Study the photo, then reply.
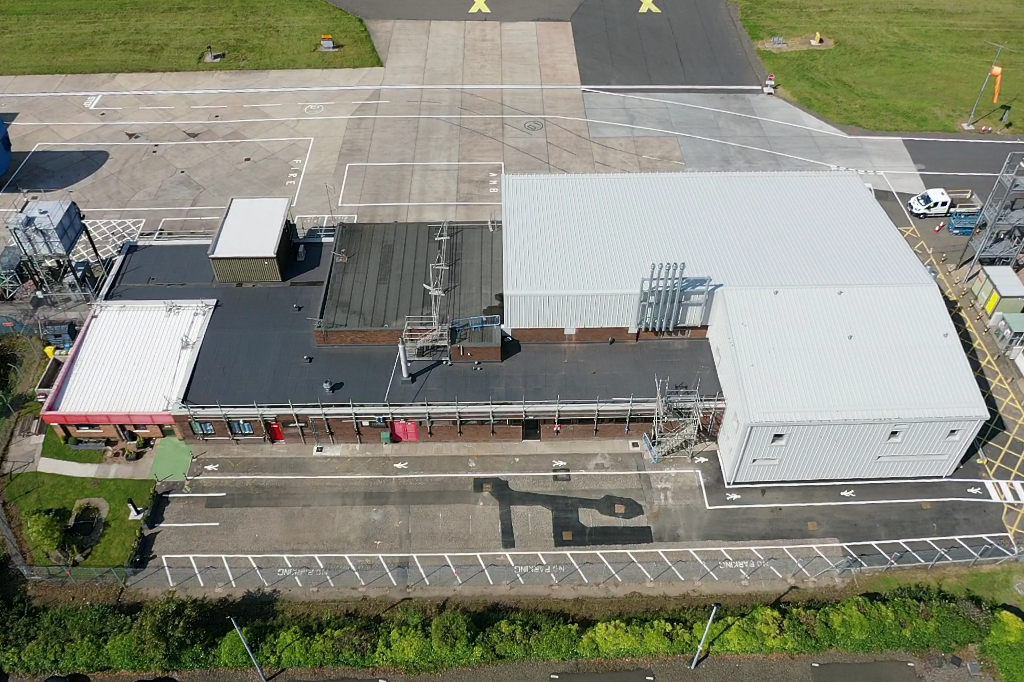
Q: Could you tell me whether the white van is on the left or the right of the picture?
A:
right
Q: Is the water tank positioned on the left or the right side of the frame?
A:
left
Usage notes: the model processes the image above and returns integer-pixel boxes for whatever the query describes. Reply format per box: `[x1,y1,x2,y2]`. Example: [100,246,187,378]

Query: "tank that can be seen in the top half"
[0,189,109,302]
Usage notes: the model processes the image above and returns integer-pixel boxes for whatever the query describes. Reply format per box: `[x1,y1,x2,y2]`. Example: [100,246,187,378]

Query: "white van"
[900,186,986,219]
